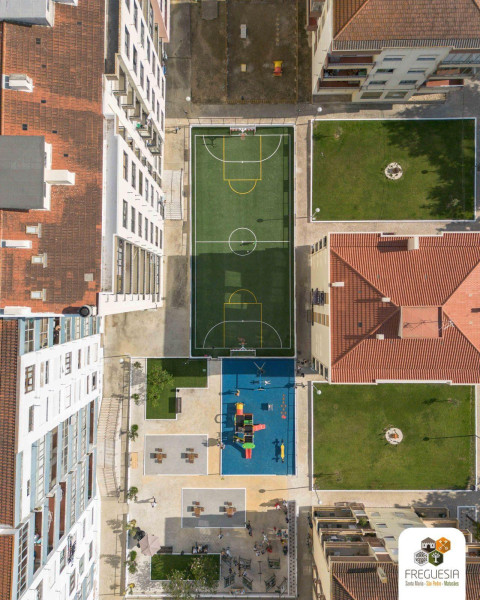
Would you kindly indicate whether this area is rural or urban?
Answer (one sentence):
This place is urban.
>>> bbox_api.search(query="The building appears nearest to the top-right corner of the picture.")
[311,0,480,116]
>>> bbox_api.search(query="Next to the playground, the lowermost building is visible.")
[311,504,480,600]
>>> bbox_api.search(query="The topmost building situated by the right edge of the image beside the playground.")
[312,229,480,387]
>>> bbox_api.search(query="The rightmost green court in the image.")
[190,123,295,358]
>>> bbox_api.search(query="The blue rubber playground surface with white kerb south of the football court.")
[221,358,295,475]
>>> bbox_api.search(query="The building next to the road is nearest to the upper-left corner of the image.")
[0,0,171,316]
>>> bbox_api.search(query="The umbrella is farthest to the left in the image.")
[135,538,156,563]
